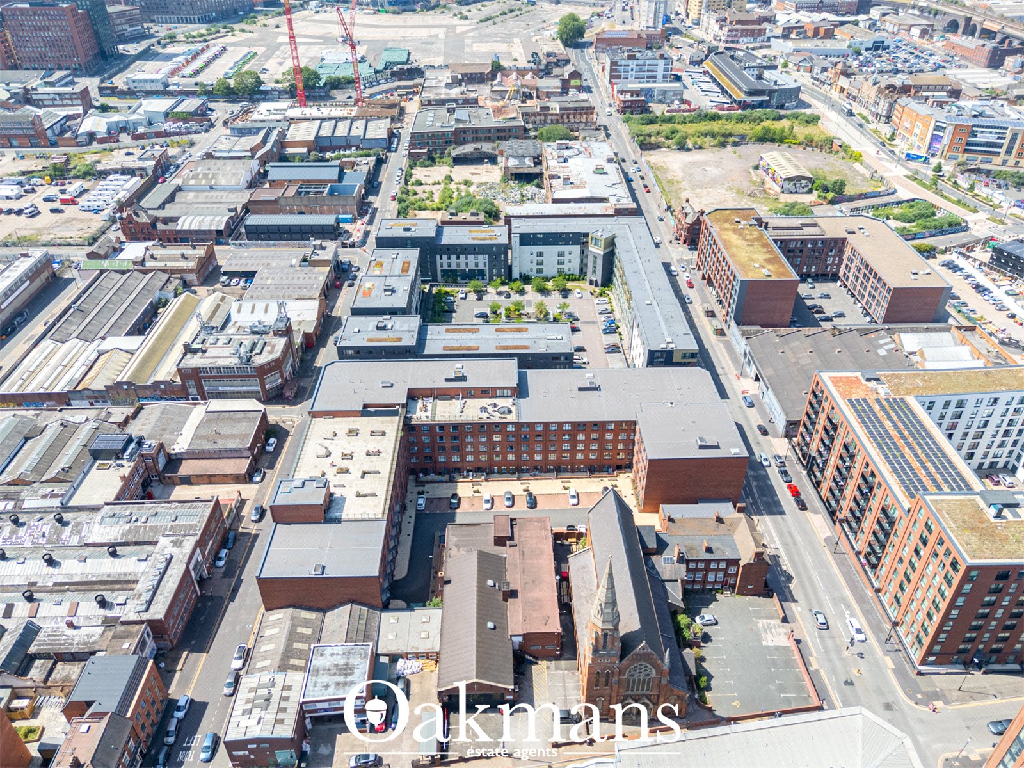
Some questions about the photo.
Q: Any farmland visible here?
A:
No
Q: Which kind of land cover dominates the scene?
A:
buildings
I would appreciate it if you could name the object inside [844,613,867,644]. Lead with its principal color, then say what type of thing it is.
white vehicle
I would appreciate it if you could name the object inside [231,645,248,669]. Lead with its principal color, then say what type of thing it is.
white car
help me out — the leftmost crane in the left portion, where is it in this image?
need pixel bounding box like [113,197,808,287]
[283,0,309,107]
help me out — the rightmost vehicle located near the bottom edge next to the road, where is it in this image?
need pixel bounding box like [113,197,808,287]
[986,720,1013,735]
